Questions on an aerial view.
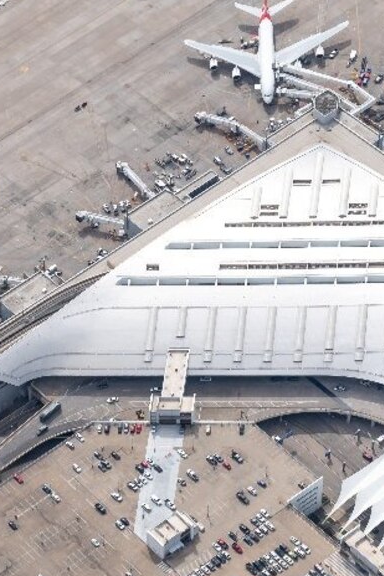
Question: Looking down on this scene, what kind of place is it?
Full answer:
This looks like an airport.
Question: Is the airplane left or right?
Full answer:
It is on the right.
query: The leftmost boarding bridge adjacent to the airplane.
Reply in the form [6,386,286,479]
[196,111,267,151]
